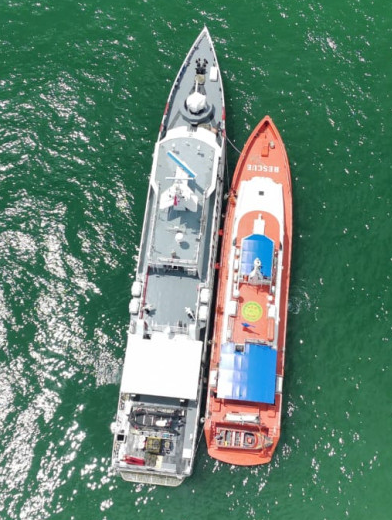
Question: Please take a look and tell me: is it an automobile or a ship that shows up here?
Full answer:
Visible in the photo is a ship.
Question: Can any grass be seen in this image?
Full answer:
No, the picture contains no grass.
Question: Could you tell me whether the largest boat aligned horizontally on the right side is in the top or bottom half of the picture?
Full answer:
You can find the largest boat aligned horizontally on the right side in the bottom half.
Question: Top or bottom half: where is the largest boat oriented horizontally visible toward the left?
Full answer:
The bottom half of the photo is where the largest boat oriented horizontally visible toward the left is.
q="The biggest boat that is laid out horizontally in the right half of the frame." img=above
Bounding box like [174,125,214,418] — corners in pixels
[215,427,269,451]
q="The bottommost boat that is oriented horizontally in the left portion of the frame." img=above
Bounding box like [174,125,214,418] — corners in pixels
[131,409,179,431]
